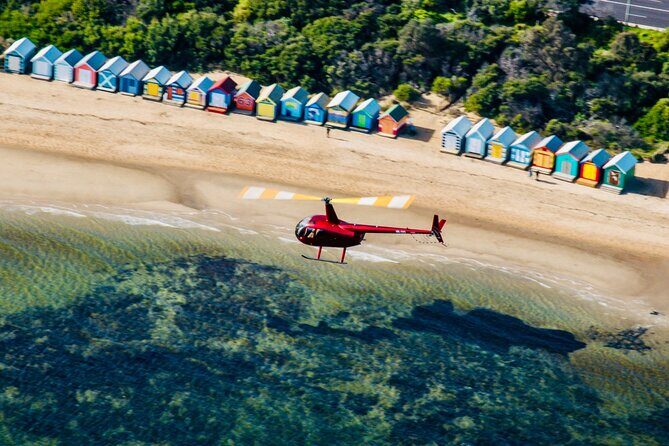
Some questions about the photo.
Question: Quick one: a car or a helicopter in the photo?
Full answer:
There is a helicopter in the scene.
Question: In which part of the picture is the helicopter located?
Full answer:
The helicopter appears toward the center of the photo.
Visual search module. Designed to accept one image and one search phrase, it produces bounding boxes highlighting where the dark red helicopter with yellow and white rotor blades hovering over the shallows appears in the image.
[245,191,447,262]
